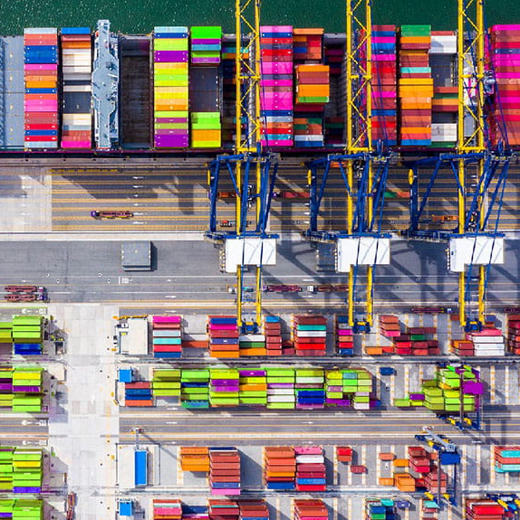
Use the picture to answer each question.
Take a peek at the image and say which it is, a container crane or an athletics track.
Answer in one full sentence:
The image shows a container crane.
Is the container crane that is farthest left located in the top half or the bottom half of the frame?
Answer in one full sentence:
It is in the top half that the container crane that is farthest left appears.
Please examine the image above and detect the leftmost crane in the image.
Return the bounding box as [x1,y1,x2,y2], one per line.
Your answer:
[198,0,278,338]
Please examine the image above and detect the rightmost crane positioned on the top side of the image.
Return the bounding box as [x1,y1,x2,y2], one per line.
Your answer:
[393,0,512,338]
